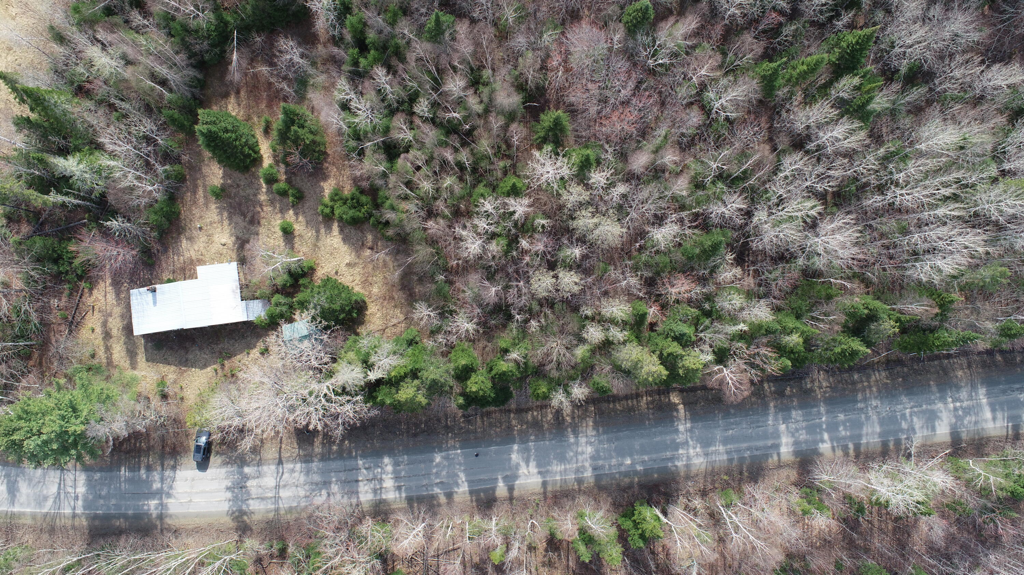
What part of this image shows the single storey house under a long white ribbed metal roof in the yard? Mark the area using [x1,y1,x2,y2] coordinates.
[130,262,270,335]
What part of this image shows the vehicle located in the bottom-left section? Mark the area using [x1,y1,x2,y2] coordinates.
[193,428,214,463]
